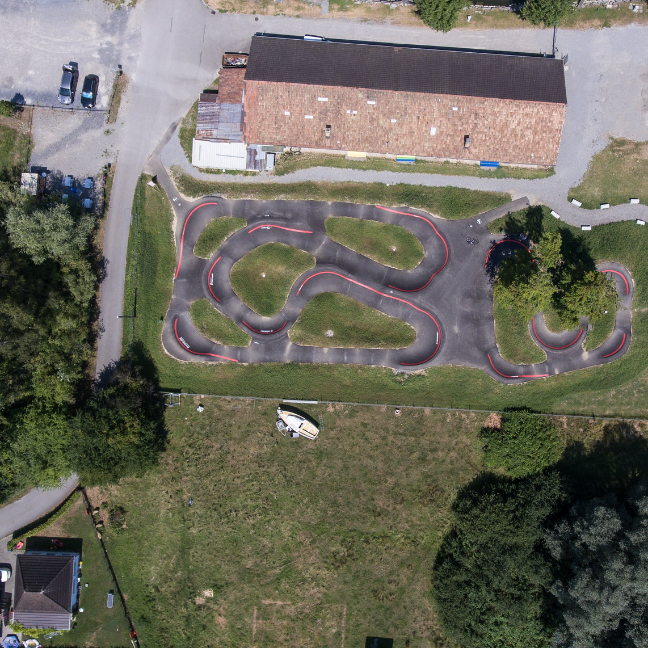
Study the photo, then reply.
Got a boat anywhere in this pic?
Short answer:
Yes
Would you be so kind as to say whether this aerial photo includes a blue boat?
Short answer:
No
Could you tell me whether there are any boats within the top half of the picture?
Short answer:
No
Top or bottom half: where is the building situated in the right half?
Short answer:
top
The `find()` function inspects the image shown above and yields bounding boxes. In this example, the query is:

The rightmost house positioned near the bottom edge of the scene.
[12,550,79,633]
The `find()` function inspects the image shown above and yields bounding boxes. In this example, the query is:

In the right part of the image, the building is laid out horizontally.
[242,35,571,168]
